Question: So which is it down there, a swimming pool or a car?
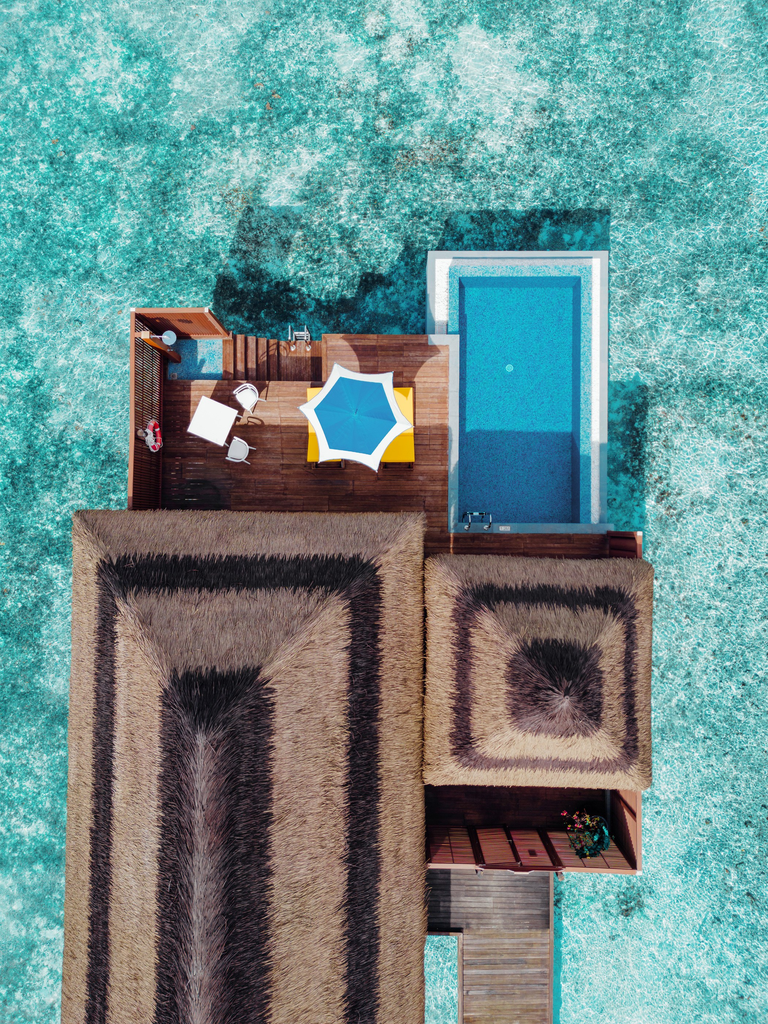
swimming pool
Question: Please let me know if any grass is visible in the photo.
No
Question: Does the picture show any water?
Yes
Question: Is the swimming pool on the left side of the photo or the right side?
right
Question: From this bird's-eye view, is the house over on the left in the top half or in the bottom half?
bottom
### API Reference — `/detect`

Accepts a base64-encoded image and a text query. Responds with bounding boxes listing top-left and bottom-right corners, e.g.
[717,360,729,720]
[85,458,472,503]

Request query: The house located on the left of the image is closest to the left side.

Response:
[59,508,426,1024]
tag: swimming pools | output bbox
[425,251,614,532]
